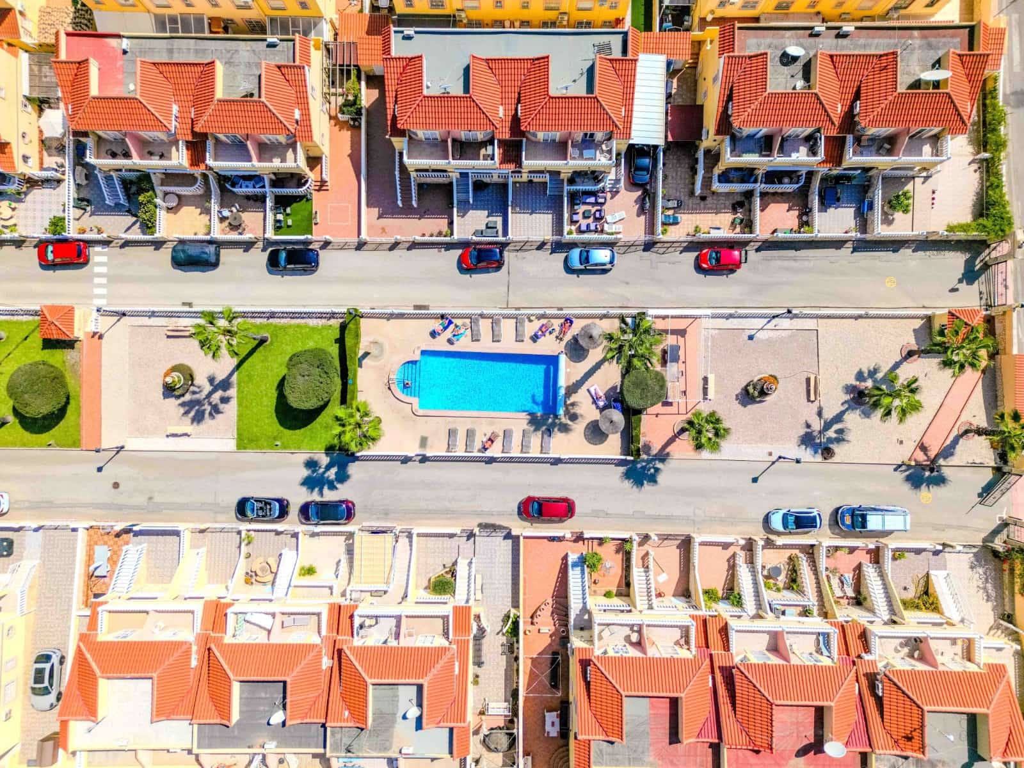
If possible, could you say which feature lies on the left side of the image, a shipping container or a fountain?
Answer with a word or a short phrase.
fountain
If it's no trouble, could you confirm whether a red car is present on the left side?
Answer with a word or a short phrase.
Yes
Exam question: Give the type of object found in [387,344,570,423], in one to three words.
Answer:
swimming pool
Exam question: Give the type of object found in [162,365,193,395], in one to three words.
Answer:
fountain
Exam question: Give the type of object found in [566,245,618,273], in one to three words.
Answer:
car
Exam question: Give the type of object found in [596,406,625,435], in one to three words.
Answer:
umbrella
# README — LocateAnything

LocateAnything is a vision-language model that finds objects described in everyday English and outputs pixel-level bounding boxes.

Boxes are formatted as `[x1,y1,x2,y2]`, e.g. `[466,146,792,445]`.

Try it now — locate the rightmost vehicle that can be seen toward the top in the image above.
[700,246,754,272]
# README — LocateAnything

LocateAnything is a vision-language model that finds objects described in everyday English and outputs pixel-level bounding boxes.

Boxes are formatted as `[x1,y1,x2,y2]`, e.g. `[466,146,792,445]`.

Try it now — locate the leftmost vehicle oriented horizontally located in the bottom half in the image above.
[232,497,288,524]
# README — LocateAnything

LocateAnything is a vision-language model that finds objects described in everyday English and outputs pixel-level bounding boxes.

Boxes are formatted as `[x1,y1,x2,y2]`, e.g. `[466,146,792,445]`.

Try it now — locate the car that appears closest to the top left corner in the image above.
[33,239,86,266]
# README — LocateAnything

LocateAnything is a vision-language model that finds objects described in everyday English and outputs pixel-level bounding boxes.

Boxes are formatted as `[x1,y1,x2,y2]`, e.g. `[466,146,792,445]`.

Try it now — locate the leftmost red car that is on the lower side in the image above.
[520,496,576,524]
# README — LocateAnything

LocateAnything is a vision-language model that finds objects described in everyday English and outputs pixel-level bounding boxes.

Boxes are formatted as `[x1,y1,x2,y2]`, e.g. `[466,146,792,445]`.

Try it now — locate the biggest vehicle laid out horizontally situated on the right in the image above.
[840,504,919,534]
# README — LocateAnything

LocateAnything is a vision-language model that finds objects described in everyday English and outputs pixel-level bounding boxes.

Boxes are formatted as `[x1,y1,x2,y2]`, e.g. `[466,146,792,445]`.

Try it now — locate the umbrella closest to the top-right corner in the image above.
[575,322,603,350]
